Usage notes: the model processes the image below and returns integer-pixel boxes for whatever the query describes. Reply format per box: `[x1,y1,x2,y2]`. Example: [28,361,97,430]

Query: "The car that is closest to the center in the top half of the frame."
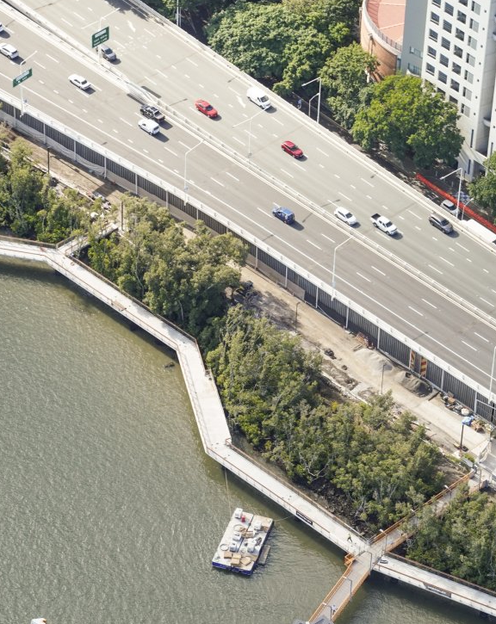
[267,205,292,223]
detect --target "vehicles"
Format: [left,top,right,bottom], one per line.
[278,139,301,157]
[437,198,461,216]
[93,43,116,59]
[193,99,215,116]
[267,205,292,223]
[134,117,158,135]
[424,212,450,232]
[0,42,16,58]
[66,74,89,91]
[243,86,268,107]
[367,213,396,234]
[136,103,163,123]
